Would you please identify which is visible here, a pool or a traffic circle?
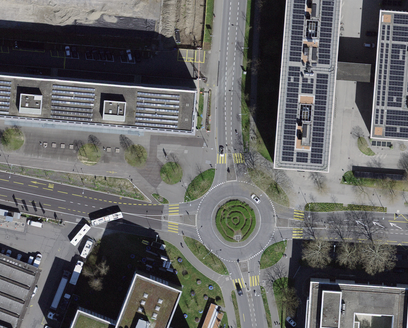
traffic circle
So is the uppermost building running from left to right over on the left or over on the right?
left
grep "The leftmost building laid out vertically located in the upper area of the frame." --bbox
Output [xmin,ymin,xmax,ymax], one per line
[273,0,342,172]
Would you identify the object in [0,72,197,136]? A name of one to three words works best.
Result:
building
